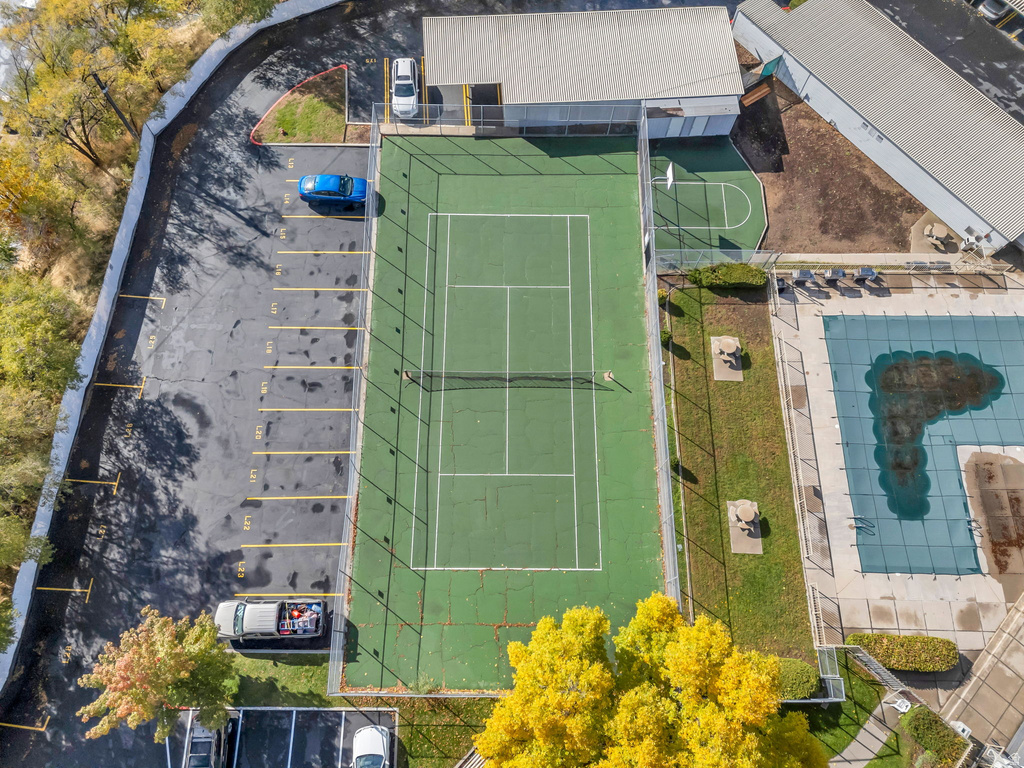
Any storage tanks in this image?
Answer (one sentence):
No, the frame has no storage tank in it.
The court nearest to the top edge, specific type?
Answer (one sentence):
In the photo, the court nearest to the top edge shows up as a basketball court.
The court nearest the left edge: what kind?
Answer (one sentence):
The court nearest the left edge is a tennis court.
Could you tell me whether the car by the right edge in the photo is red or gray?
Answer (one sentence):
The color of the car by the right edge is gray.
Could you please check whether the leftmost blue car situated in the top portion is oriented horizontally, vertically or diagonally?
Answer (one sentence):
The leftmost blue car situated in the top portion is oriented horizontally.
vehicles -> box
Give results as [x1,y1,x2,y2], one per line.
[390,57,420,118]
[177,714,229,768]
[347,726,389,768]
[214,599,326,642]
[975,0,1011,22]
[296,172,367,205]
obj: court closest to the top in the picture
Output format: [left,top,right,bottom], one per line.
[638,135,766,272]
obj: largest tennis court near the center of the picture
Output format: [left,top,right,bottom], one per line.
[340,136,667,690]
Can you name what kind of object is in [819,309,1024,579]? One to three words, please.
swimming pool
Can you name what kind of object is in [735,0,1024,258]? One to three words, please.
building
